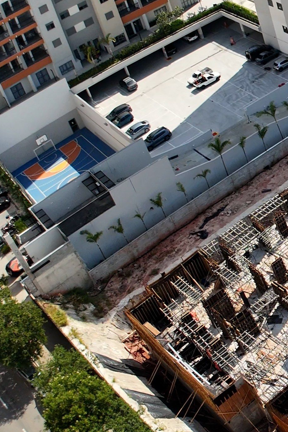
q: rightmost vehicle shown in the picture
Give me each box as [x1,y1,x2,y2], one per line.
[269,52,288,71]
